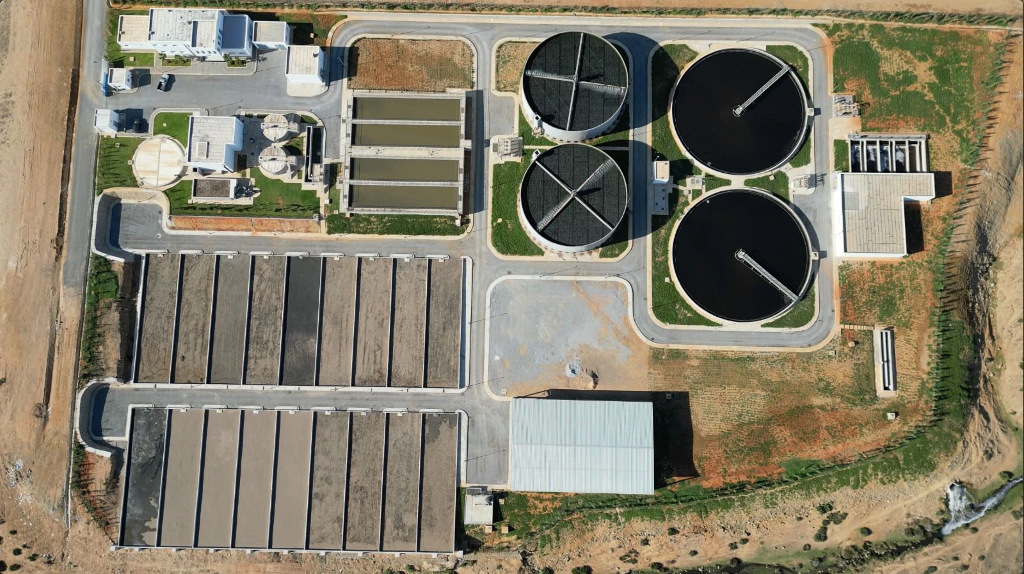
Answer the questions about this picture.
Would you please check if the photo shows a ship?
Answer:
No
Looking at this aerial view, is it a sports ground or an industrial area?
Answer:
industrial area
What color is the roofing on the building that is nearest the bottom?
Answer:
white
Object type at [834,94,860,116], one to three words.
building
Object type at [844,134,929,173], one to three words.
storage tank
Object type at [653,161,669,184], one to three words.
building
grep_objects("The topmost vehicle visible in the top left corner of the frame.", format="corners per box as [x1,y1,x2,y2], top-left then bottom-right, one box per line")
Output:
[155,73,168,92]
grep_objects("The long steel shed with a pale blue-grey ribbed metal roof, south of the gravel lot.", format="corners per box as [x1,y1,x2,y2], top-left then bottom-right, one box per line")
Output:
[510,398,654,494]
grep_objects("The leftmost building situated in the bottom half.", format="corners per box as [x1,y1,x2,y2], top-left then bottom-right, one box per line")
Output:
[465,494,493,525]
